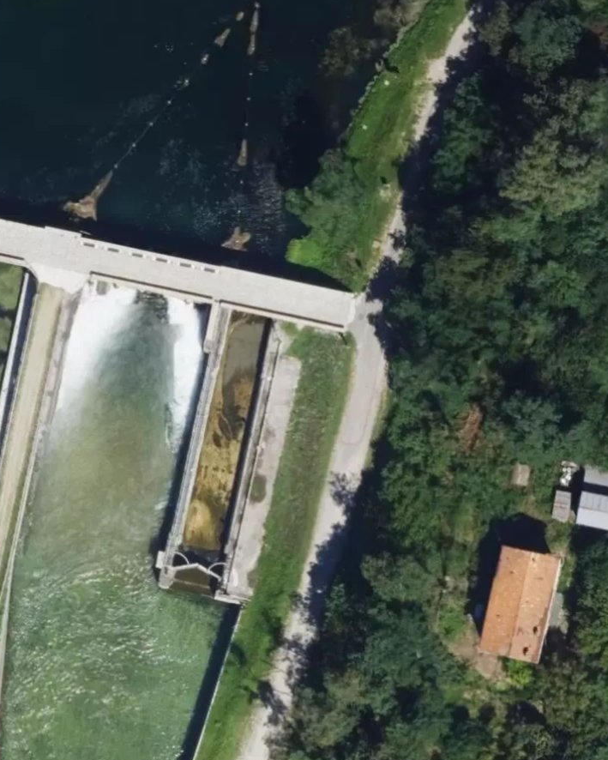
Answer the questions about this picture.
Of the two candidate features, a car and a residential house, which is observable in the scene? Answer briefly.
residential house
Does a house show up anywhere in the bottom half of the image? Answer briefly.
Yes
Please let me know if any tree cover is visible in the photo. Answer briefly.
Yes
